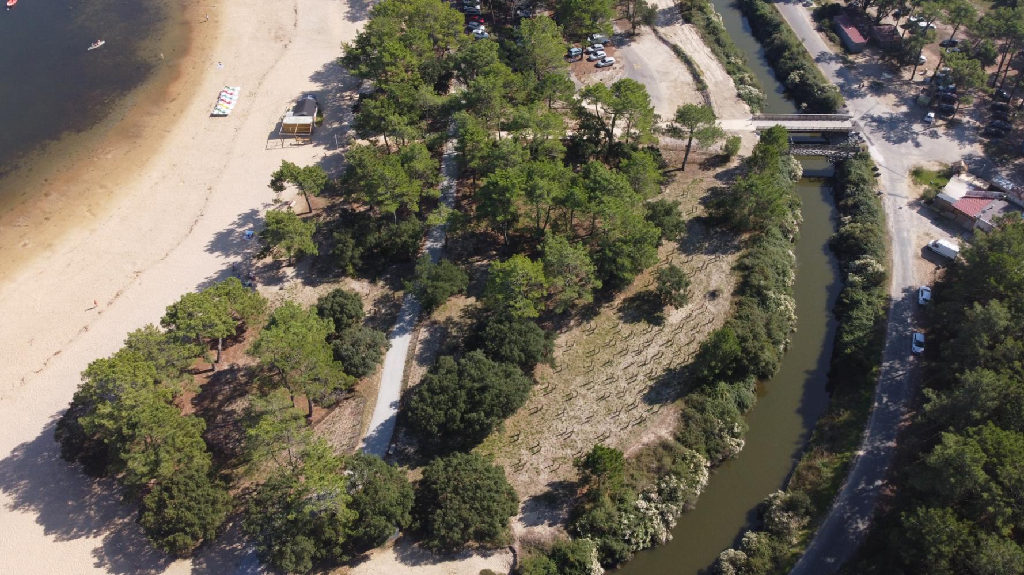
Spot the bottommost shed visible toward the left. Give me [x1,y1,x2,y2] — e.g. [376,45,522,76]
[279,98,324,148]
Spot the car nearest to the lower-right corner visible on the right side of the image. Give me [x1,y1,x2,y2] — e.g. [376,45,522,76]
[913,330,927,351]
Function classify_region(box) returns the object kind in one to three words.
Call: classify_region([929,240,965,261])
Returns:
vehicle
